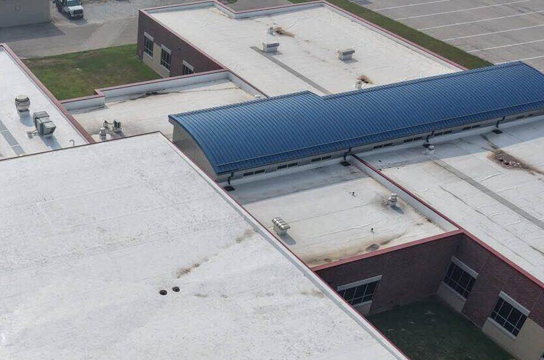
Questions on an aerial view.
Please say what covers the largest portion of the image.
buildings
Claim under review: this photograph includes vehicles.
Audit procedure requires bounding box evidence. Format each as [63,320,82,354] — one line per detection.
[56,0,83,14]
